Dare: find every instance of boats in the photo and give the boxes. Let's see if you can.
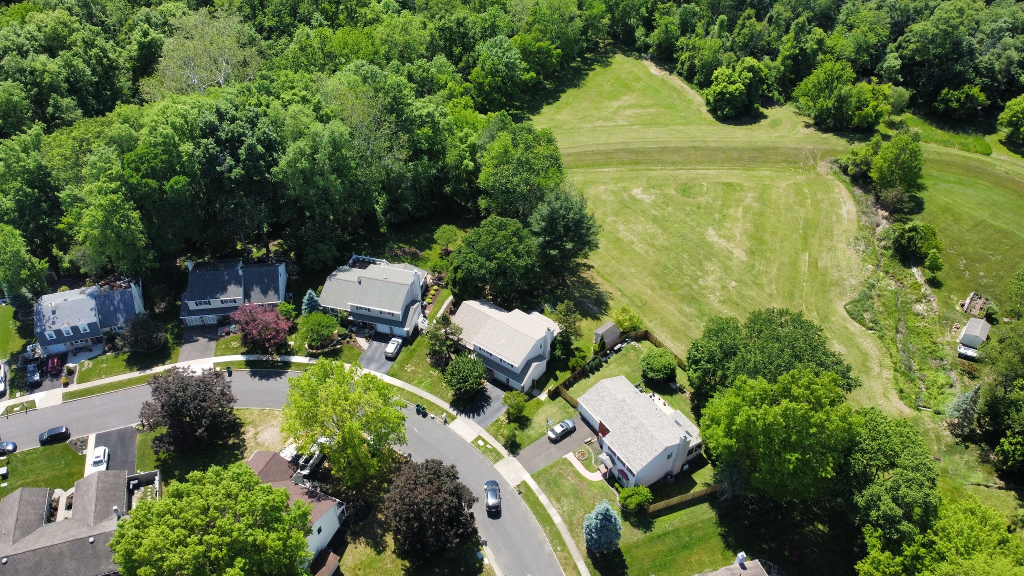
[951,348,987,362]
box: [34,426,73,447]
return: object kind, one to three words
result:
car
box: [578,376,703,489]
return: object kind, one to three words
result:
house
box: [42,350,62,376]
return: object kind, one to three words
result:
car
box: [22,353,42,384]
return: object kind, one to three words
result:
vehicle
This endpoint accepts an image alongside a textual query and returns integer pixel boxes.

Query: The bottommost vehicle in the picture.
[484,481,501,514]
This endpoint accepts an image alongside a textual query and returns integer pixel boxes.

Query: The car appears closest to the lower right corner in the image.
[546,418,577,442]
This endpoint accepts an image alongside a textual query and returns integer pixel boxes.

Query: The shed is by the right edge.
[945,314,988,347]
